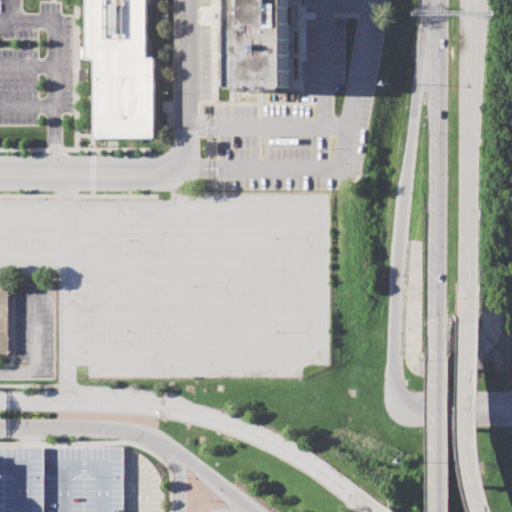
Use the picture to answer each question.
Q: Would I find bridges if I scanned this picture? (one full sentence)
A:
Yes, looking at the shot, I can spot a bridge.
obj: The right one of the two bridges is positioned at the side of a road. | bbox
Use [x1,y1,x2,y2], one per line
[454,320,491,512]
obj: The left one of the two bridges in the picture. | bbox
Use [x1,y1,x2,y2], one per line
[426,359,448,512]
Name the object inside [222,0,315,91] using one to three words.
building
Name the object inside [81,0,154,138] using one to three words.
building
